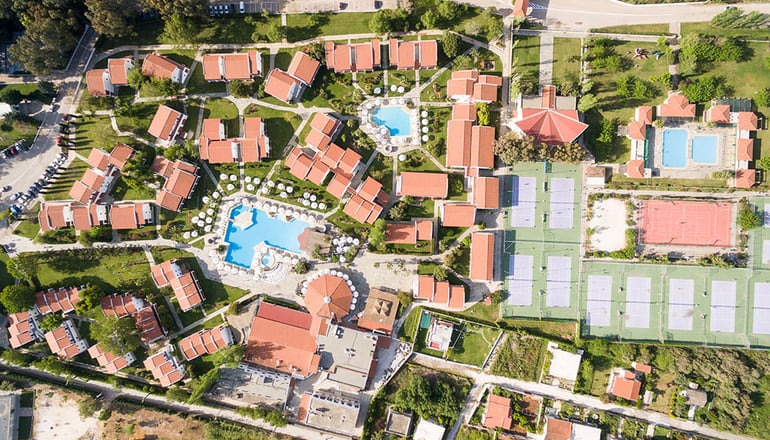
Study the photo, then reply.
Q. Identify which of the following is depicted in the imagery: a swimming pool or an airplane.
swimming pool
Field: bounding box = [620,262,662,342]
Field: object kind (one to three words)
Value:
tennis court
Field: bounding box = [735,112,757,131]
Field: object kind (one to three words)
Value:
building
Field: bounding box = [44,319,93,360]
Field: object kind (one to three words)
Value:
house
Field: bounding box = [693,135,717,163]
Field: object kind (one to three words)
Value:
swimming pool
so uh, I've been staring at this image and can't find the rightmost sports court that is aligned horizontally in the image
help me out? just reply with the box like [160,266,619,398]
[644,200,732,247]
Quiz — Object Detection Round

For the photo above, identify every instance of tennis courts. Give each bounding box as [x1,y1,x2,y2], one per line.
[580,261,622,340]
[542,162,582,244]
[620,262,662,342]
[504,161,544,243]
[502,241,541,320]
[747,270,770,347]
[662,265,705,344]
[750,233,770,271]
[704,267,749,346]
[751,197,770,234]
[539,243,580,321]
